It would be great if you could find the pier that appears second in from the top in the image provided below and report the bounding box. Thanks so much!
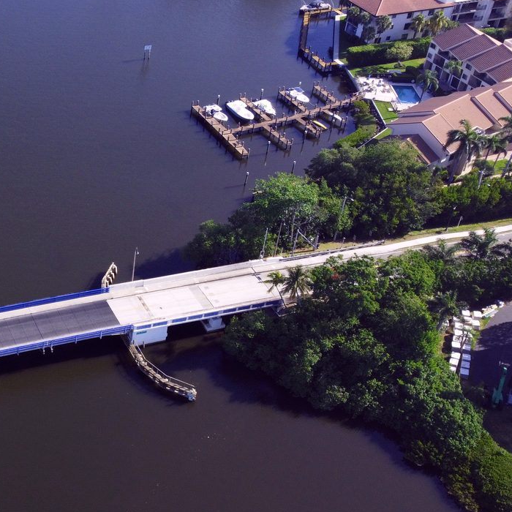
[190,81,366,160]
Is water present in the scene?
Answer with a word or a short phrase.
Yes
